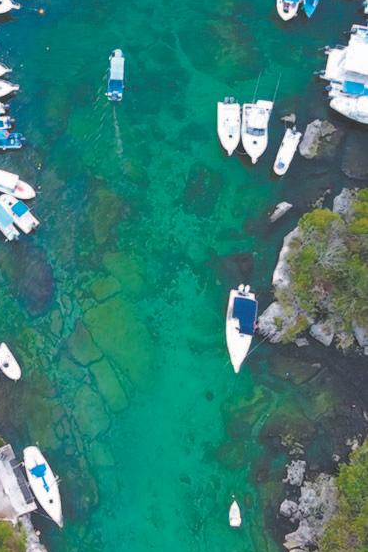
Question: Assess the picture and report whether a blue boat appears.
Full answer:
Yes, the photo shows a blue boat.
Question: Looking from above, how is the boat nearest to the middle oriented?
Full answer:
I'd say the boat nearest to the middle is aligned vertically in the picture.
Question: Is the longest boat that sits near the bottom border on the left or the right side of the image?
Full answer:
The longest boat that sits near the bottom border sits on the left side.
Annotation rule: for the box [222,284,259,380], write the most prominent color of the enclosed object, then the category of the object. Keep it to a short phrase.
white boat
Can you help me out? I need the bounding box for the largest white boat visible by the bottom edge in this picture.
[21,446,63,528]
